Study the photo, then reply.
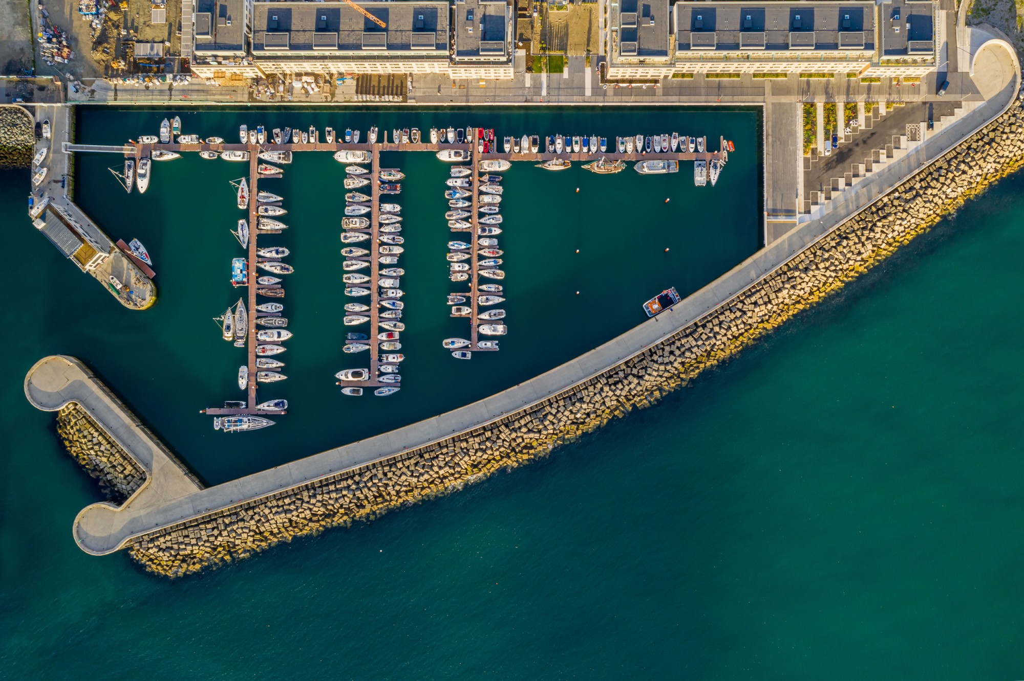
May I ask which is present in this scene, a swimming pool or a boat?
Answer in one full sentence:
The one in the frame is a boat.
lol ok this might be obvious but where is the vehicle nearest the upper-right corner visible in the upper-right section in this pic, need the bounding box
[936,80,949,97]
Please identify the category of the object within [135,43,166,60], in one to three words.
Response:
building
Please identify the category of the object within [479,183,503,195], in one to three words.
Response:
boat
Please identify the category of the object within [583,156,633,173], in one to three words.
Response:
ship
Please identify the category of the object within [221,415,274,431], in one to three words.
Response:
boat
